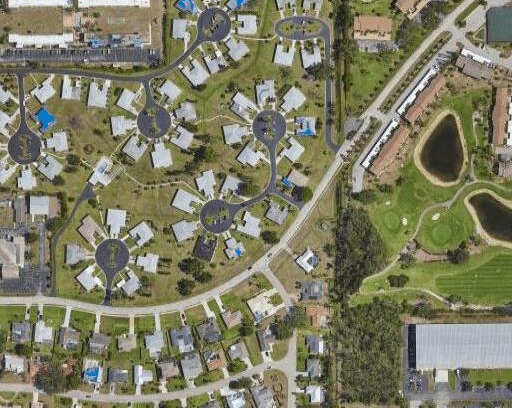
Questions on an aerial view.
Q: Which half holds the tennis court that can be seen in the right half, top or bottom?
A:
top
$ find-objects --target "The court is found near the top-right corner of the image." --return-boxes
[488,6,512,42]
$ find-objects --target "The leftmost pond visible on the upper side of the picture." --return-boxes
[422,113,465,181]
